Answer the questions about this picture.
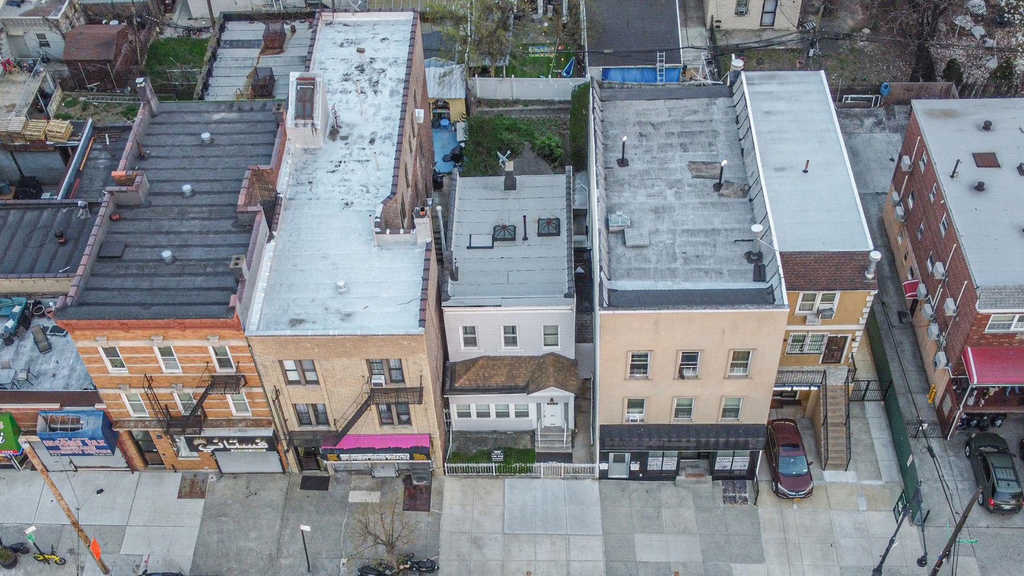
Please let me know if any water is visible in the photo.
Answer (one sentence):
No, water can't be seen anywhere here.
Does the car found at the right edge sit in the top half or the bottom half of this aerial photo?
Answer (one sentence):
The car found at the right edge is in the bottom half of the image.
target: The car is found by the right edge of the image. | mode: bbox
[969,437,1024,519]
